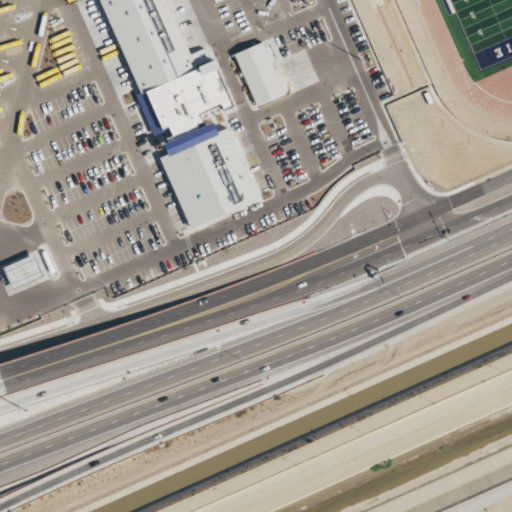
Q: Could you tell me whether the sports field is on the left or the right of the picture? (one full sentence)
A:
You can find the sports field on the right side of the picture.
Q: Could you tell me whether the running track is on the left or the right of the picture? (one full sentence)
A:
It is on the right.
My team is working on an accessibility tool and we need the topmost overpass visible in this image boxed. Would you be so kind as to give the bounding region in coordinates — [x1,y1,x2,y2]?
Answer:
[0,252,318,398]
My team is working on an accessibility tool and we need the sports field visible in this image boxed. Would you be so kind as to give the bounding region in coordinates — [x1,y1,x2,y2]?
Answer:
[436,0,512,82]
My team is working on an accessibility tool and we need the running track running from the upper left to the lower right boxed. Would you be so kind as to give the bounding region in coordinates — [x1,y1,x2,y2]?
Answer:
[419,0,512,122]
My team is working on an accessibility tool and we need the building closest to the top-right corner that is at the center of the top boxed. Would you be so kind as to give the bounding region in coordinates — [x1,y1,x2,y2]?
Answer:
[233,42,286,108]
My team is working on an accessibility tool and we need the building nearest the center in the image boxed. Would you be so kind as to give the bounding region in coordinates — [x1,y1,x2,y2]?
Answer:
[160,126,260,228]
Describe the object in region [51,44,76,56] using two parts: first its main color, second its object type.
yellow vehicle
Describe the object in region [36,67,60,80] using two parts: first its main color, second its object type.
yellow vehicle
